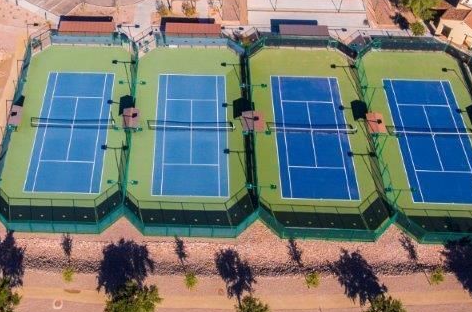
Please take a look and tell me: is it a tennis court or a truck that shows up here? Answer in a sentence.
There is a tennis court in the scene.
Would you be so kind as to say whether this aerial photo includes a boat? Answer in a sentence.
No, no boat is visible in the scene.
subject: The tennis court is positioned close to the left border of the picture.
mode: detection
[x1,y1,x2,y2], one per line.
[0,44,139,236]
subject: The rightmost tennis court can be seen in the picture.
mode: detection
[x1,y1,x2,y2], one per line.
[355,50,472,247]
